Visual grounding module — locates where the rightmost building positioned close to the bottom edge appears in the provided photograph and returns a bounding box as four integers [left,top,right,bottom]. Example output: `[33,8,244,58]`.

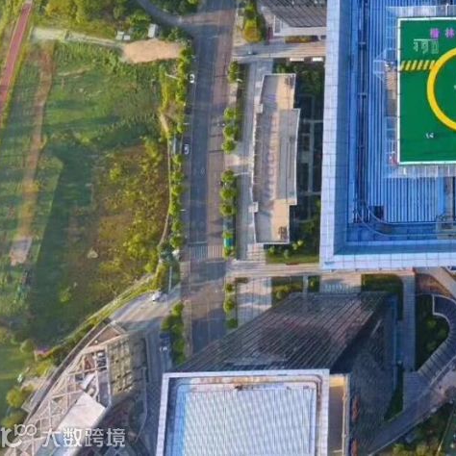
[156,297,406,456]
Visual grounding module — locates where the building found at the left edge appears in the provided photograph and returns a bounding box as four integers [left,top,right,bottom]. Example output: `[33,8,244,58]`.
[4,309,155,456]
